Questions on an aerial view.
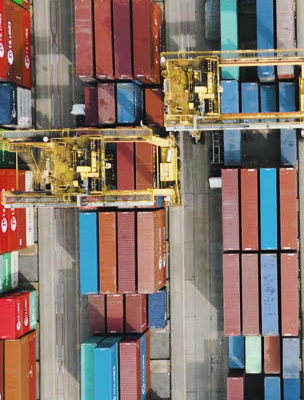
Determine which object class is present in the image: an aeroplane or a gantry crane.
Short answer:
gantry crane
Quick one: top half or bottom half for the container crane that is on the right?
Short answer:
top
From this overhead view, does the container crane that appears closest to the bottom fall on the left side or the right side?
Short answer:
left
